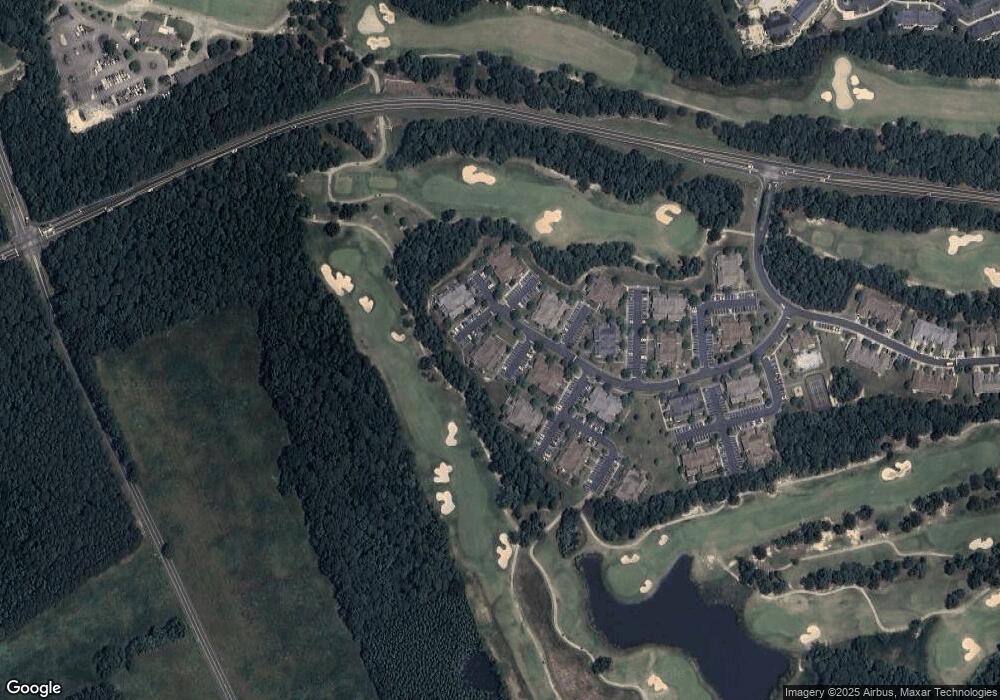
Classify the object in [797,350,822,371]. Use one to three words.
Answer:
swimming pool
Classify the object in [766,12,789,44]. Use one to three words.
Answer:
building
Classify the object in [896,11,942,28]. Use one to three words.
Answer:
building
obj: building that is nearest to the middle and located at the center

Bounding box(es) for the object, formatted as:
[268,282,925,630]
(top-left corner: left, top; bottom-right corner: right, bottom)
[466,336,510,379]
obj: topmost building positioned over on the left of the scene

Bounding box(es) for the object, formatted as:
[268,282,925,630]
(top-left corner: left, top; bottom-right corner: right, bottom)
[138,19,180,51]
